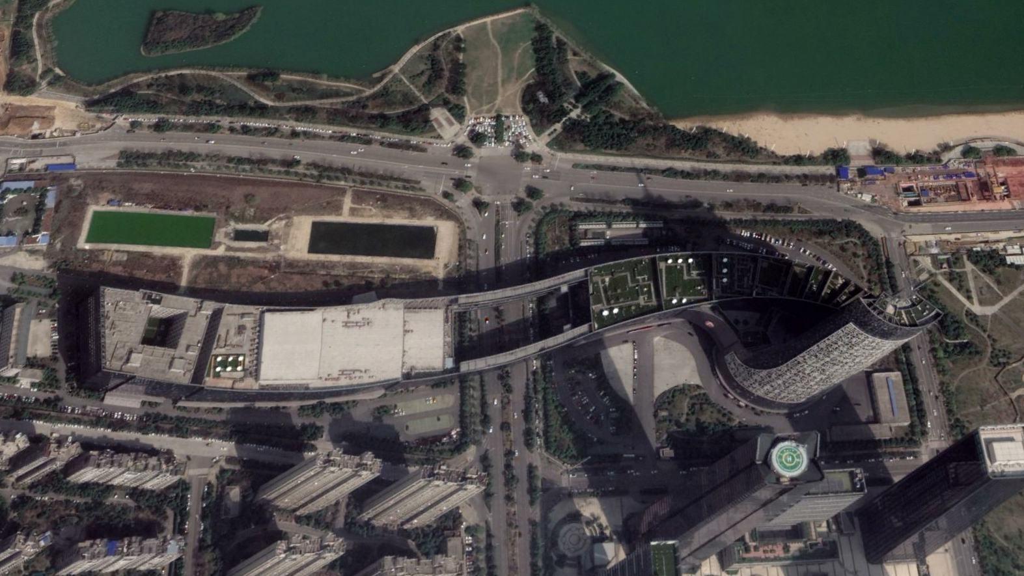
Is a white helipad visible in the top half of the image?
No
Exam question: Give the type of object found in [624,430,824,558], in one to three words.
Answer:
building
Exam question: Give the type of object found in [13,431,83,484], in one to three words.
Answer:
building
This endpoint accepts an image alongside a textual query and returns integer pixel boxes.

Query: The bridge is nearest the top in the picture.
[454,269,587,308]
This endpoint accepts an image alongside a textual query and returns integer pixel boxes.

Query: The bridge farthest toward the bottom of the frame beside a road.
[452,323,594,377]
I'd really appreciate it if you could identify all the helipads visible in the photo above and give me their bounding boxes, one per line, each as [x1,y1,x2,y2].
[771,441,809,478]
